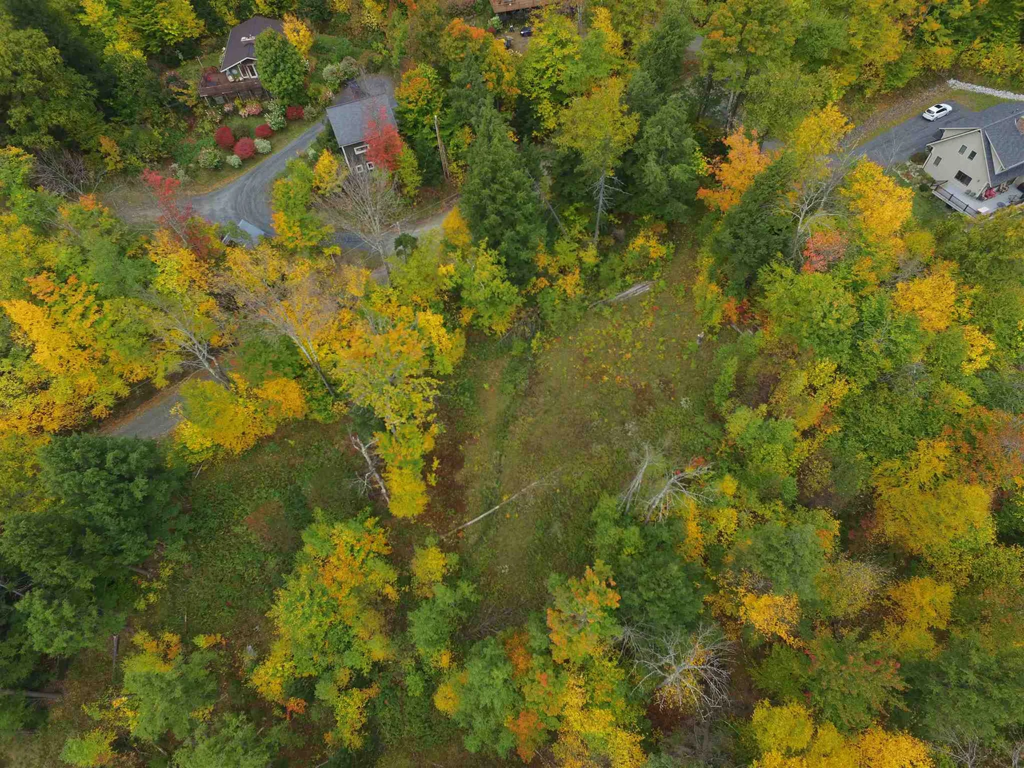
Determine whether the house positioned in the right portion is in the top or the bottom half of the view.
top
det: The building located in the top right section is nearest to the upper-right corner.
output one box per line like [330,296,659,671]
[919,94,1024,202]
